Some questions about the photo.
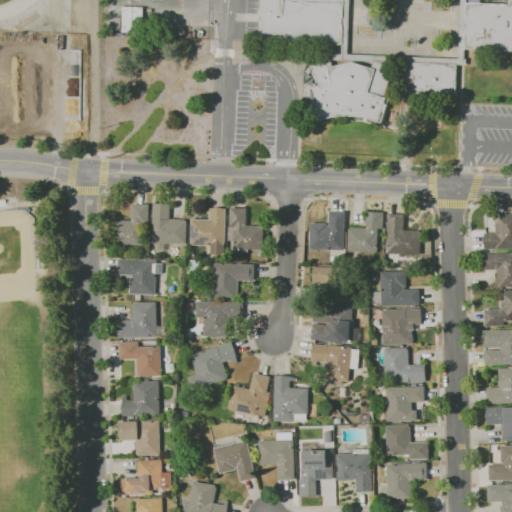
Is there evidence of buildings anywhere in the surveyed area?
Yes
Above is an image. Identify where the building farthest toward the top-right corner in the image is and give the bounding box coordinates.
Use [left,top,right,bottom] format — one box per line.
[466,2,512,50]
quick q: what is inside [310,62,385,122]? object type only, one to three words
building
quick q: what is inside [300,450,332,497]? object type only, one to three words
house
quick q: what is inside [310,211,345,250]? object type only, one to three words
house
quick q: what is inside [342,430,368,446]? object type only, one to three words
swimming pool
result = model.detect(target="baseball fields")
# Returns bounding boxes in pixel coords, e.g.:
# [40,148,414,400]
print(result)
[0,209,44,512]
